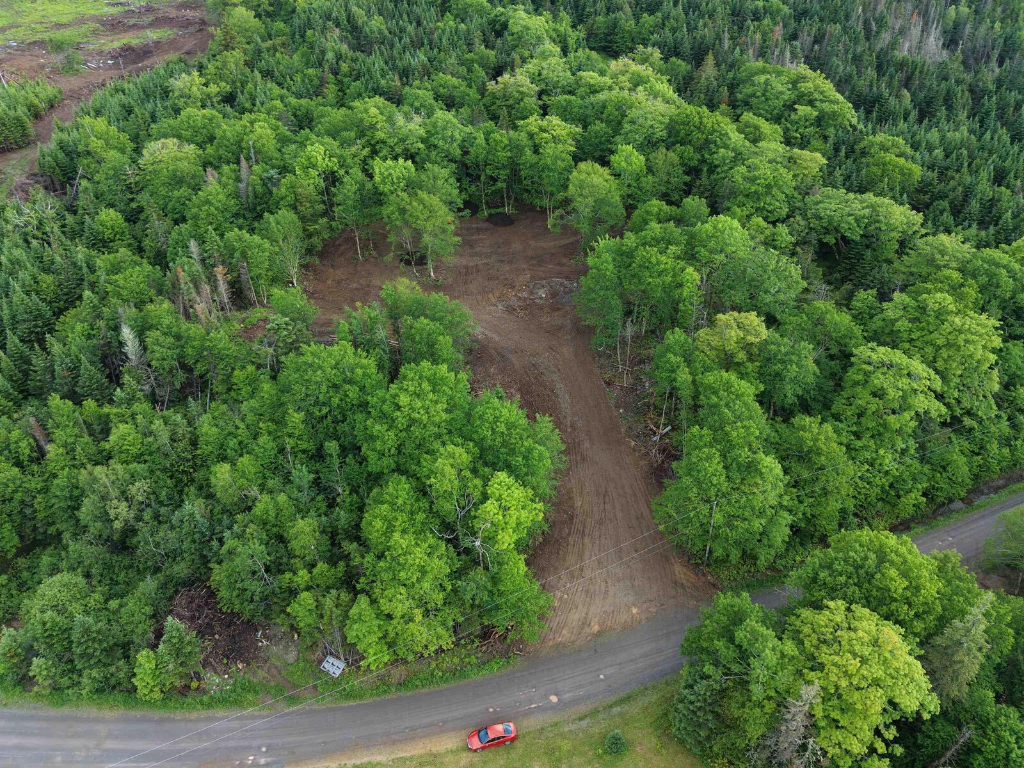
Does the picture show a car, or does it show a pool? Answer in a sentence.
There is a car in the scene.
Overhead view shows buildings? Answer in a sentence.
No, no building can be seen from above.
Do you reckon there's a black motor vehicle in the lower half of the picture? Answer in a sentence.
No, the scene shows no black motor vehicle in the lower half of the picture.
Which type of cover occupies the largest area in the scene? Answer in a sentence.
The scene is dominated by trees.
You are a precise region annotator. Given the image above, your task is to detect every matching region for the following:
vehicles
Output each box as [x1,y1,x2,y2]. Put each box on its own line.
[466,720,517,753]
